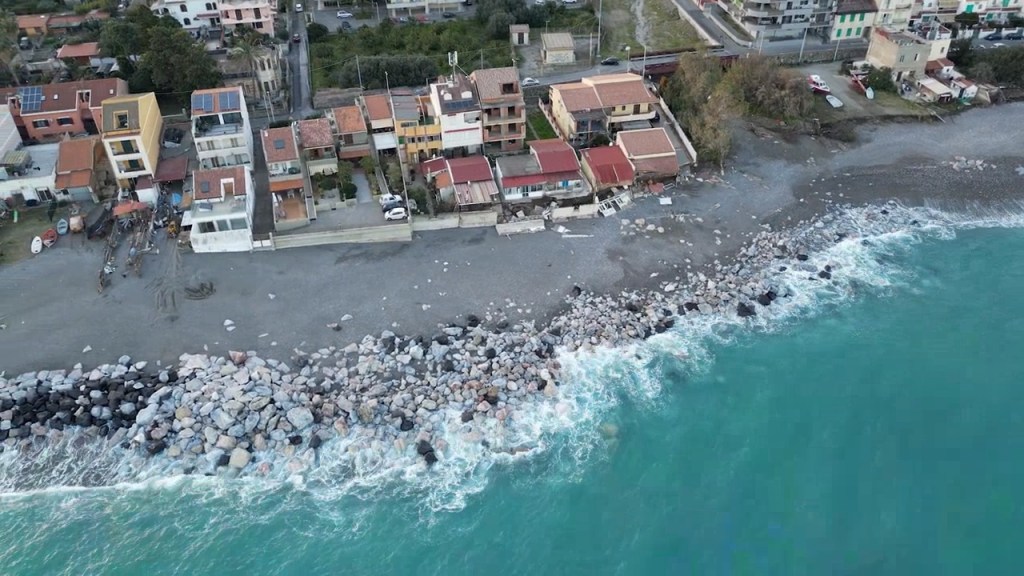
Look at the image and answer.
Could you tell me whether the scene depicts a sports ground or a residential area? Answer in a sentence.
It's a residential area.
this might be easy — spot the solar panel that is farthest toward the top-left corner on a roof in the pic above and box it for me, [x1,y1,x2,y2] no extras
[18,87,45,110]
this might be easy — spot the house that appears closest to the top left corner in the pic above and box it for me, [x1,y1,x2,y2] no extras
[17,12,53,41]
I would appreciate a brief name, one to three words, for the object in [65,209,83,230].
boat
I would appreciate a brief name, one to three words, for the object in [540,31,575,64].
shed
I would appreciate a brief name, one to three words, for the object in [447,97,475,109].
solar panel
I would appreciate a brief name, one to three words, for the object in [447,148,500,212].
house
